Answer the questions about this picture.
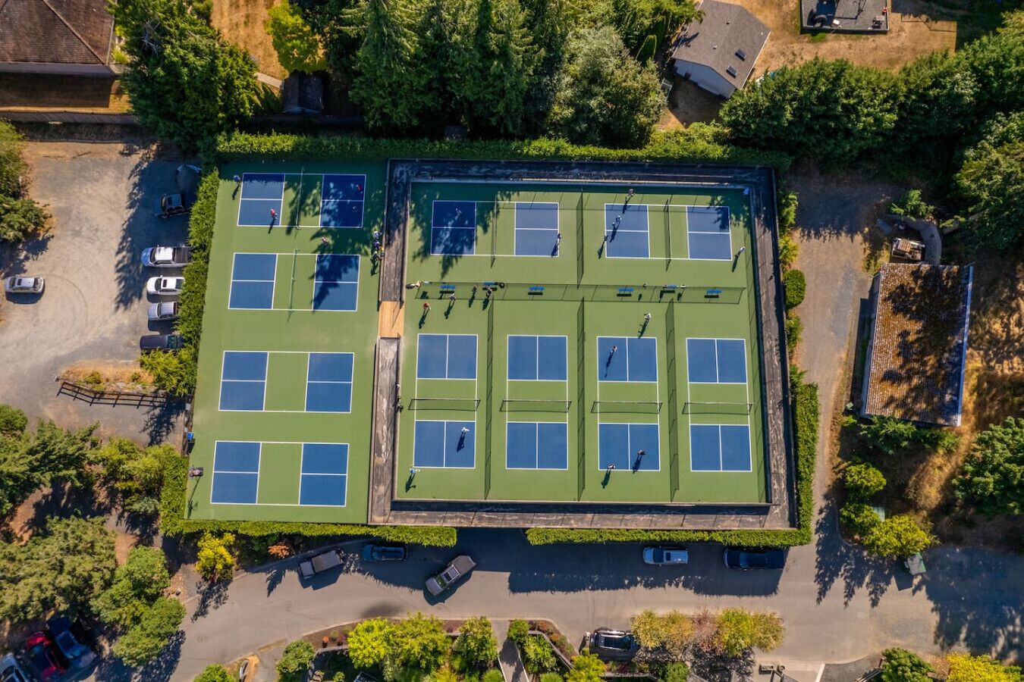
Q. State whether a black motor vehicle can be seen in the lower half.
Yes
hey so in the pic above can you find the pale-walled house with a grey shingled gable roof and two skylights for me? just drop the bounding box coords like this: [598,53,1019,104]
[671,0,772,100]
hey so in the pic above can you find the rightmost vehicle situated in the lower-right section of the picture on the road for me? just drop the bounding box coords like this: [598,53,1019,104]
[722,548,787,572]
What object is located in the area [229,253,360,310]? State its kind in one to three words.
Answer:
sports court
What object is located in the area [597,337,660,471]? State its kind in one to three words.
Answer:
sports court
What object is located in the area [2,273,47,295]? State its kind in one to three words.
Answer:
car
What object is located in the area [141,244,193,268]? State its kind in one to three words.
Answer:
truck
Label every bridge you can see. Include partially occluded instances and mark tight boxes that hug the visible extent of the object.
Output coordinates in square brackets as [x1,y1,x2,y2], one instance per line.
[378,298,404,337]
